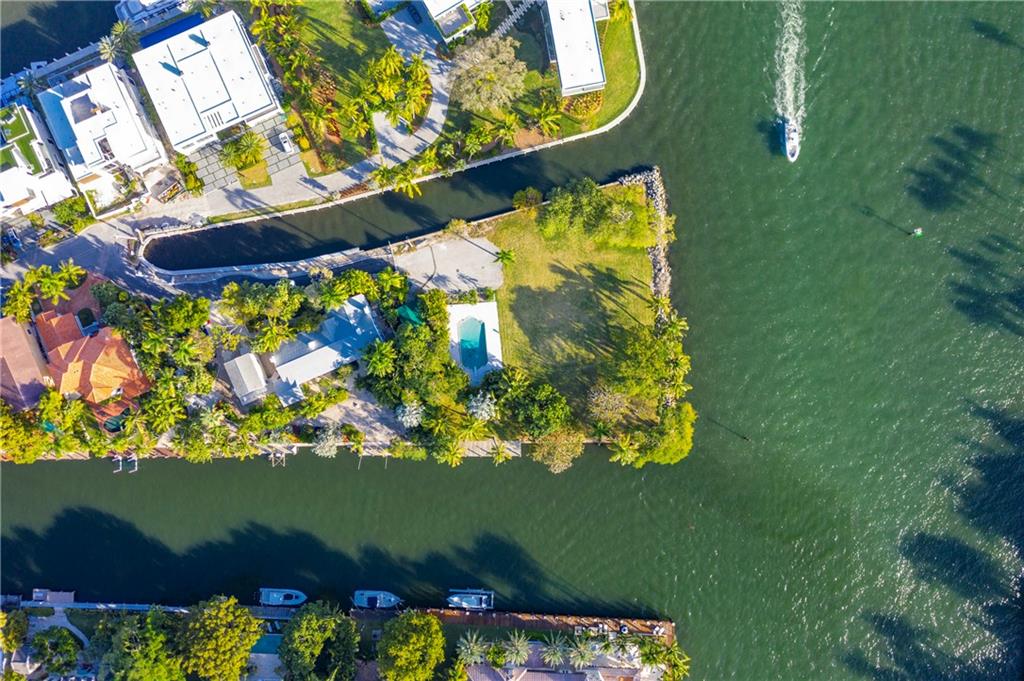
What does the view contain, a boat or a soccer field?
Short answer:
boat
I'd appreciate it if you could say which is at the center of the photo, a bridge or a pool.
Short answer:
pool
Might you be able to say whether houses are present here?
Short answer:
Yes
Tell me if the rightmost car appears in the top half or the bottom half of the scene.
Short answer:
top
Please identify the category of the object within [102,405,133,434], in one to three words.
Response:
swimming pool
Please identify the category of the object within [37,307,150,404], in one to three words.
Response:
house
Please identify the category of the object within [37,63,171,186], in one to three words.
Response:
house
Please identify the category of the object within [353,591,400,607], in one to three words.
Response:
boat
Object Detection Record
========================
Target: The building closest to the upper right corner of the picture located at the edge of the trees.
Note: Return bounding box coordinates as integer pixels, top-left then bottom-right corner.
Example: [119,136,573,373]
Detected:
[544,0,609,102]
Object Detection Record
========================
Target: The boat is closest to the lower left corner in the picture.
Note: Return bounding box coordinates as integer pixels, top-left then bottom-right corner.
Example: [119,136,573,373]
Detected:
[258,588,306,605]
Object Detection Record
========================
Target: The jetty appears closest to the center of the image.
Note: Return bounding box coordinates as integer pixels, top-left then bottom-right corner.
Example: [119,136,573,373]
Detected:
[460,444,521,458]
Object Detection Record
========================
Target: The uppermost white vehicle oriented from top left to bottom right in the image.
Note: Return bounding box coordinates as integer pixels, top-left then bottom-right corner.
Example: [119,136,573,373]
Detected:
[277,131,296,154]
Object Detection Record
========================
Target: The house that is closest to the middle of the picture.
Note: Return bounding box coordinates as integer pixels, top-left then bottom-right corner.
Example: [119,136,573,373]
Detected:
[266,294,384,406]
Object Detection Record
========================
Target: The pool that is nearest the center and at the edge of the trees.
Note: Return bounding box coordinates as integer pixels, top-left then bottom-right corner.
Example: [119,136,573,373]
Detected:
[447,302,503,387]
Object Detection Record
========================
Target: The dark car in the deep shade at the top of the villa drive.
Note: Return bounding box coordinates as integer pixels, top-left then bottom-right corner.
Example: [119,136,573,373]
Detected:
[405,2,425,26]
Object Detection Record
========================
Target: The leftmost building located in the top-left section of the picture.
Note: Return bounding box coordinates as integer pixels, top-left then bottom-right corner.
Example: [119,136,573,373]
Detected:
[0,102,84,230]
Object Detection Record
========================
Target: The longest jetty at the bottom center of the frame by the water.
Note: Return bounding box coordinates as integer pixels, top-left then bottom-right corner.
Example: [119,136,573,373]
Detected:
[424,609,675,648]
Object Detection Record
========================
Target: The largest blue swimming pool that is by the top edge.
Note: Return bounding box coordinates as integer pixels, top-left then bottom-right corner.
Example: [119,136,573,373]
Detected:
[137,10,208,49]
